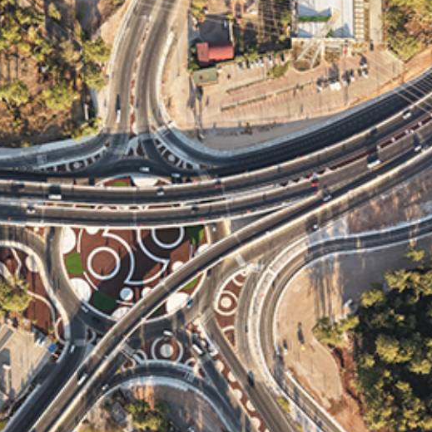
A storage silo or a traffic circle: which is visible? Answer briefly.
traffic circle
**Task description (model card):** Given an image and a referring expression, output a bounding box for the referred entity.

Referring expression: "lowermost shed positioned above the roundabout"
[193,68,219,83]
